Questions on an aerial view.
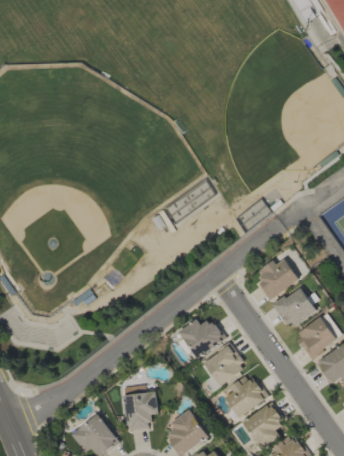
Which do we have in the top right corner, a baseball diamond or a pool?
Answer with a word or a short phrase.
baseball diamond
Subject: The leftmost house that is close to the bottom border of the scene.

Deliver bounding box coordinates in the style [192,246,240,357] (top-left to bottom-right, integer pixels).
[74,414,116,456]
